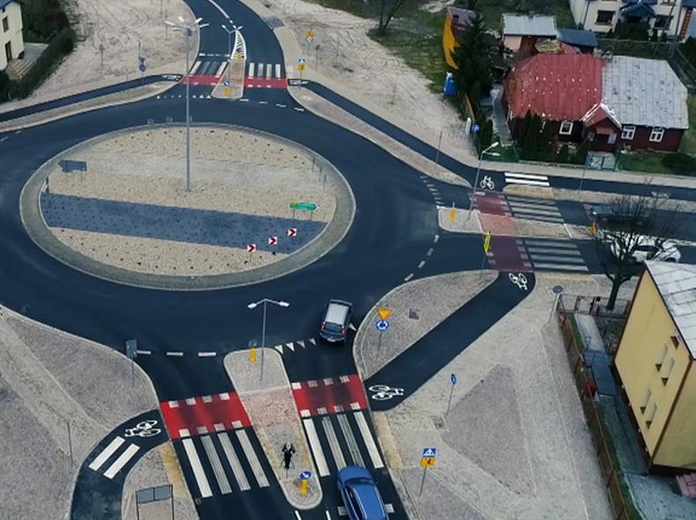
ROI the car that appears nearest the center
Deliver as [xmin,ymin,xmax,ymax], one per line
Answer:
[321,296,359,342]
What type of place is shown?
residential area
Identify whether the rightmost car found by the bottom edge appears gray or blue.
blue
